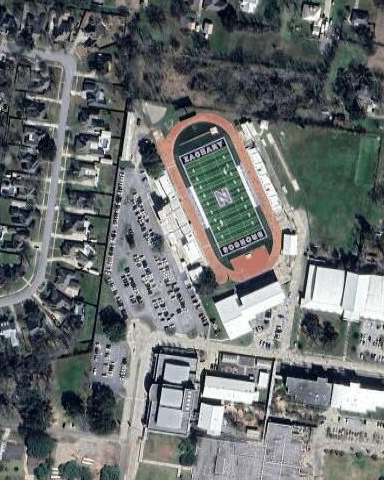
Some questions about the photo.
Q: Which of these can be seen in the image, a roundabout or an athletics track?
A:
athletics track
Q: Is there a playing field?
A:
Yes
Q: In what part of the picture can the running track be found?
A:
center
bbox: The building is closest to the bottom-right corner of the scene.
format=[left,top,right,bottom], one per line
[331,383,384,414]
